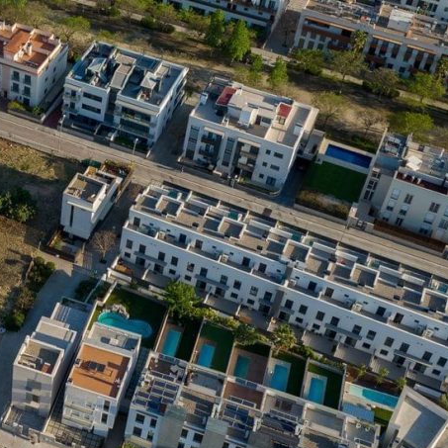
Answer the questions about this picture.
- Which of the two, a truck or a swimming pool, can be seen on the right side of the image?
swimming pool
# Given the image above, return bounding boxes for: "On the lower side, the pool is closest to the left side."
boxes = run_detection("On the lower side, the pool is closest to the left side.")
[96,311,156,339]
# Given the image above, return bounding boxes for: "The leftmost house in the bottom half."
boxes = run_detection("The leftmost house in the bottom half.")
[12,317,89,416]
